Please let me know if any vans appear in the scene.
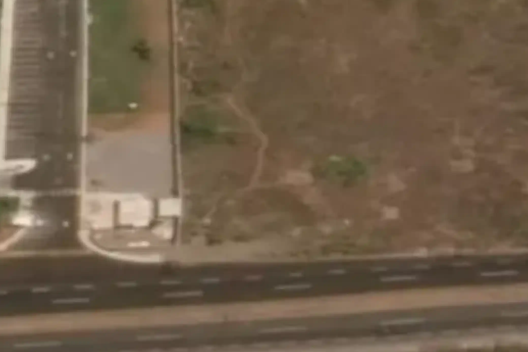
No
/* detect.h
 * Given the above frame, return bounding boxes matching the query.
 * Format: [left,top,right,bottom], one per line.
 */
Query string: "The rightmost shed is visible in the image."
[159,199,181,223]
